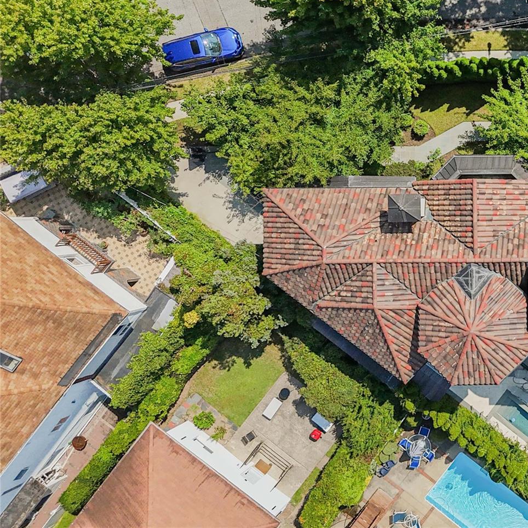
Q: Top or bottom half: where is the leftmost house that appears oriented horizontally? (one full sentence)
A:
Seen from above, the leftmost house that appears oriented horizontally lies in the bottom half of the view.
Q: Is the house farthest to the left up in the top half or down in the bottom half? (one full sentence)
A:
The house farthest to the left sits in the bottom half of the picture.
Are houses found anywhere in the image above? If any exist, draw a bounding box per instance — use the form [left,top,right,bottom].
[260,154,528,402]
[0,191,147,528]
[65,421,306,528]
